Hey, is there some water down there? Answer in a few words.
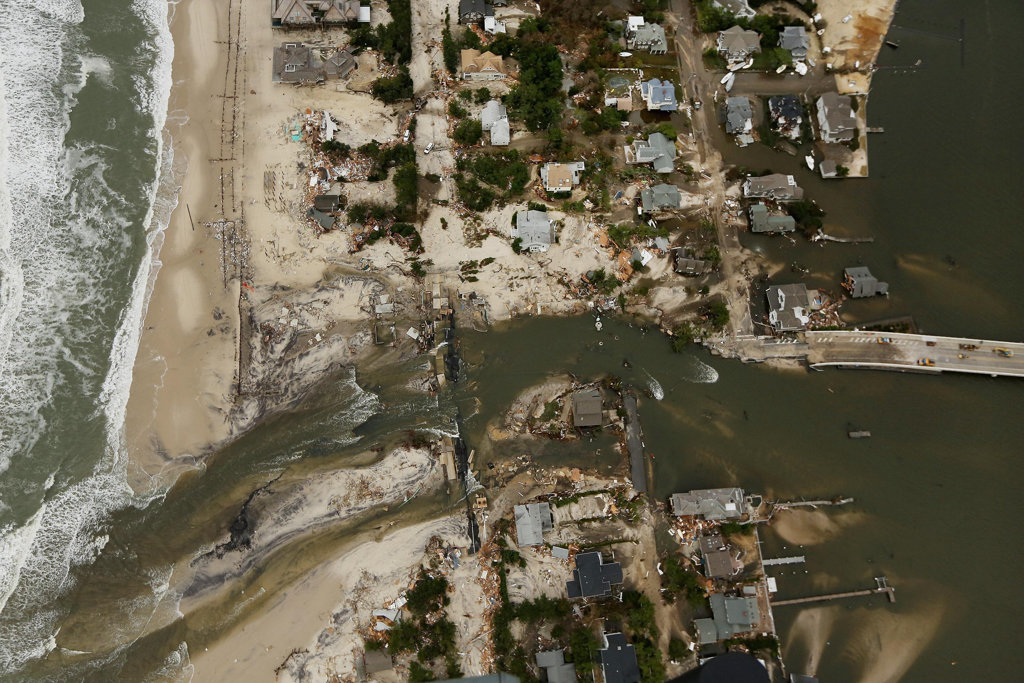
Yes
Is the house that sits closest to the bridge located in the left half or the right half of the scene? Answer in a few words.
right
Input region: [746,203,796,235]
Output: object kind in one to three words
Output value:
building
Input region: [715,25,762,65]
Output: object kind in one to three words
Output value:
house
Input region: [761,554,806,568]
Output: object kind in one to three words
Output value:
pier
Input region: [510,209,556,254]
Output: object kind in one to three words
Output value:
house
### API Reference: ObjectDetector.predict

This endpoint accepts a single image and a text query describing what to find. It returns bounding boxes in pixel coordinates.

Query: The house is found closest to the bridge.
[762,283,821,333]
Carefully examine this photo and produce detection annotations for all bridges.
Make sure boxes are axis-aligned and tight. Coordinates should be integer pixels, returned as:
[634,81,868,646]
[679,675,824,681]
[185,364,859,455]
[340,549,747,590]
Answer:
[805,330,1024,378]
